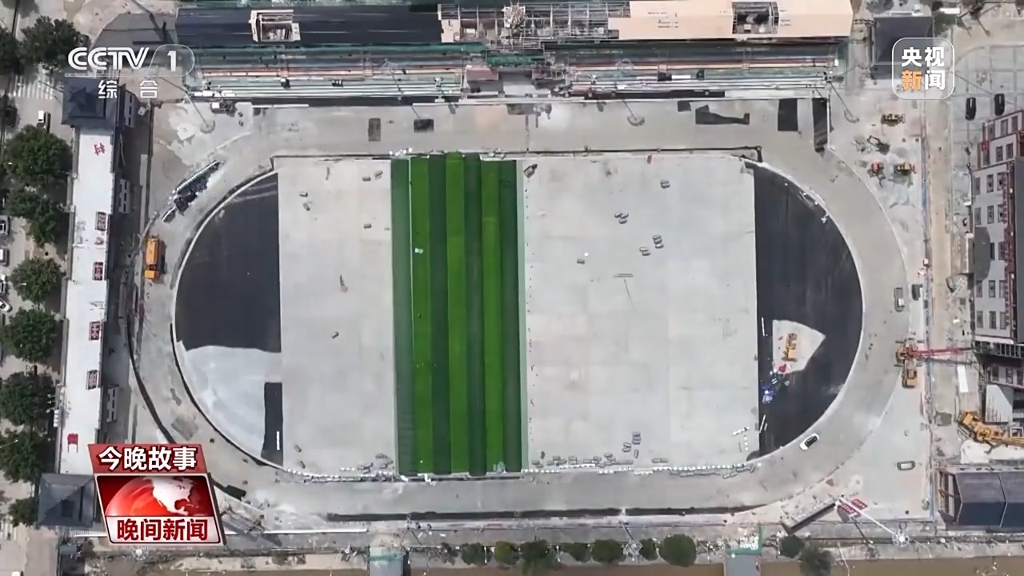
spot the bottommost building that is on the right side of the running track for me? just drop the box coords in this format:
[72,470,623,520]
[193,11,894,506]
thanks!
[920,465,1024,527]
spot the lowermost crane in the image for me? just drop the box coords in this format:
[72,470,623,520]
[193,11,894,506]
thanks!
[962,413,1024,445]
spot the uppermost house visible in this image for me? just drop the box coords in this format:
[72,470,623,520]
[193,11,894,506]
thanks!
[858,12,934,88]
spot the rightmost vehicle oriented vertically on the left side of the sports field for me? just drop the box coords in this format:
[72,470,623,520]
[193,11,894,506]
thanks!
[142,234,160,277]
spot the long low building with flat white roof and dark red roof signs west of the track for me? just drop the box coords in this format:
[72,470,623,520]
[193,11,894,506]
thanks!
[52,92,141,475]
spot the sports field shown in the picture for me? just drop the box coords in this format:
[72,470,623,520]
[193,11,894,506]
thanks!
[175,152,862,476]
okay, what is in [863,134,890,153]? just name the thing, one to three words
work vehicle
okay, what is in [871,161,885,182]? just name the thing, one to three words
work vehicle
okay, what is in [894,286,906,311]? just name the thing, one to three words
vehicle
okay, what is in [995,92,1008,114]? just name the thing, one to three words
vehicle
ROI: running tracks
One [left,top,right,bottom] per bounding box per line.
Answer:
[129,98,908,522]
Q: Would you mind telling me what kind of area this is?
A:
sports ground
